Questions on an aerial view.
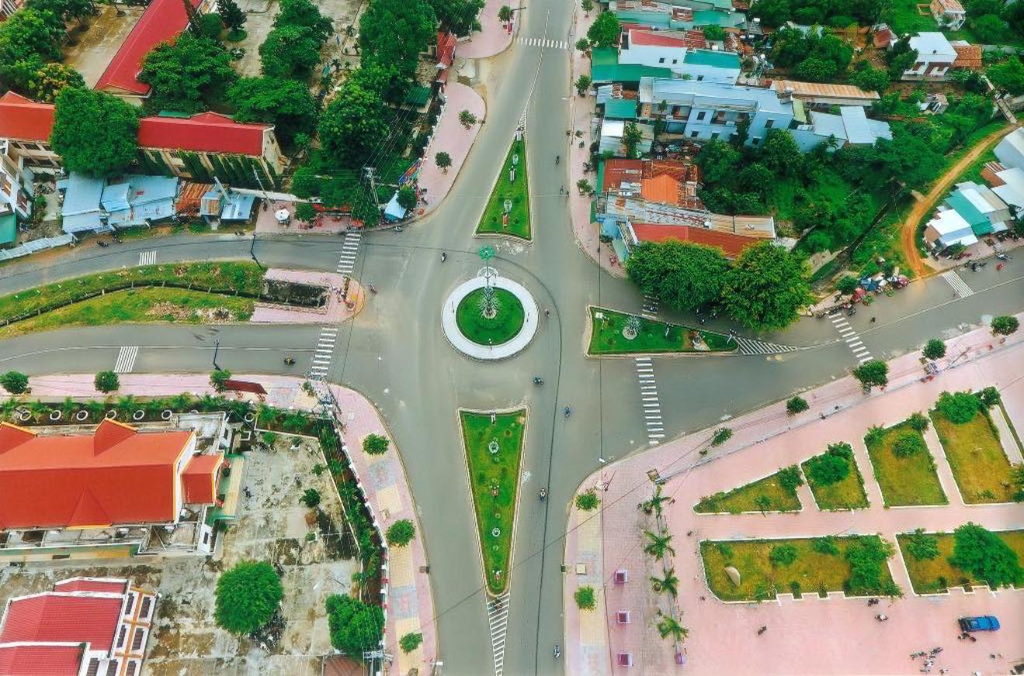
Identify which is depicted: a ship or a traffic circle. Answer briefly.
traffic circle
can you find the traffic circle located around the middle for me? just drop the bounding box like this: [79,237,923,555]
[441,276,540,360]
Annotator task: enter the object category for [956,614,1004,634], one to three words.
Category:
vehicle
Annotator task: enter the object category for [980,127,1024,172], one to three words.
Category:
house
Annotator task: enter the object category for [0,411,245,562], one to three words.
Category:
building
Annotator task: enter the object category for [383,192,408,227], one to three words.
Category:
tent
